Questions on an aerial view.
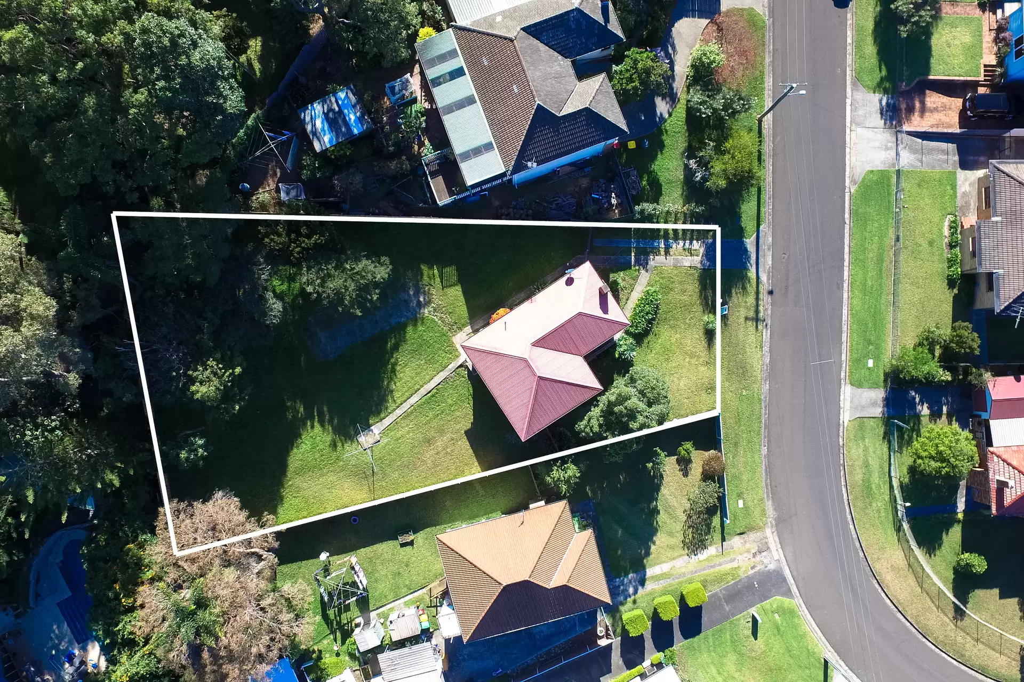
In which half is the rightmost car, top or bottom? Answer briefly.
top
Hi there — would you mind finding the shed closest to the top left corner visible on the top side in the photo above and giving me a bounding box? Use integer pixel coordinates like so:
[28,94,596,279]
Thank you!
[298,85,373,155]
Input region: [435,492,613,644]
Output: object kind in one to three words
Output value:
house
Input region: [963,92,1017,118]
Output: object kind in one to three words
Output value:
car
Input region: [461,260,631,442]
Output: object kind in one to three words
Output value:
house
